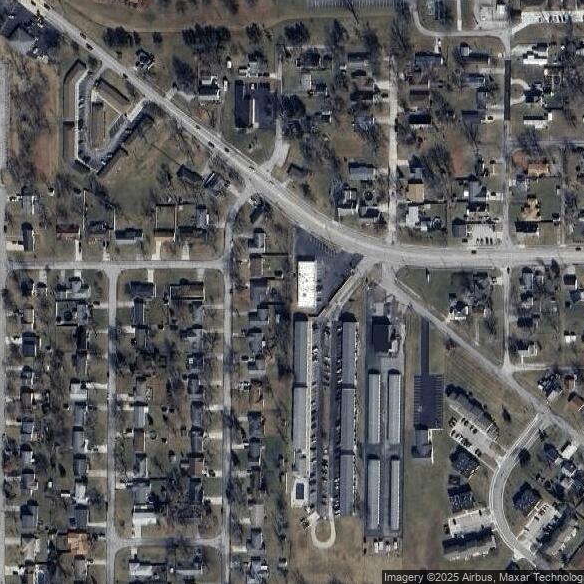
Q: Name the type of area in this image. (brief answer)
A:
residential area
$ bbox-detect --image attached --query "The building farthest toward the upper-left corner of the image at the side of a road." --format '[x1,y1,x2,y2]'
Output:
[5,26,35,57]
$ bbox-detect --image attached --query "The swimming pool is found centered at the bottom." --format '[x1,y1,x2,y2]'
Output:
[291,477,309,507]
